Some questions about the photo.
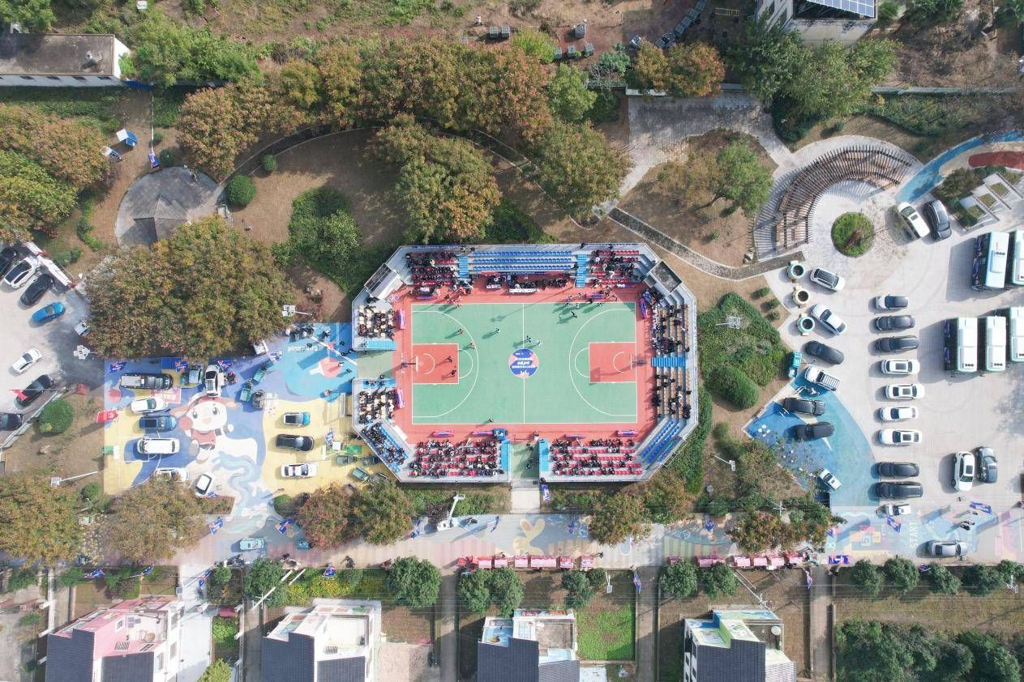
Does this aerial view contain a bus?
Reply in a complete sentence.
Yes, this view includes a bus.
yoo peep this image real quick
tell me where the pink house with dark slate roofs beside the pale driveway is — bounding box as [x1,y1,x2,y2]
[49,593,178,682]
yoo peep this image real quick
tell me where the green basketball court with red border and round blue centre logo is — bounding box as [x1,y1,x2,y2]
[358,272,653,480]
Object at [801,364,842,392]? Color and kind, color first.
white truck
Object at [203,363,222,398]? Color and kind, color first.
white car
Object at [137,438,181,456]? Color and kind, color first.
white vehicle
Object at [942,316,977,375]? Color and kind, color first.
white bus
